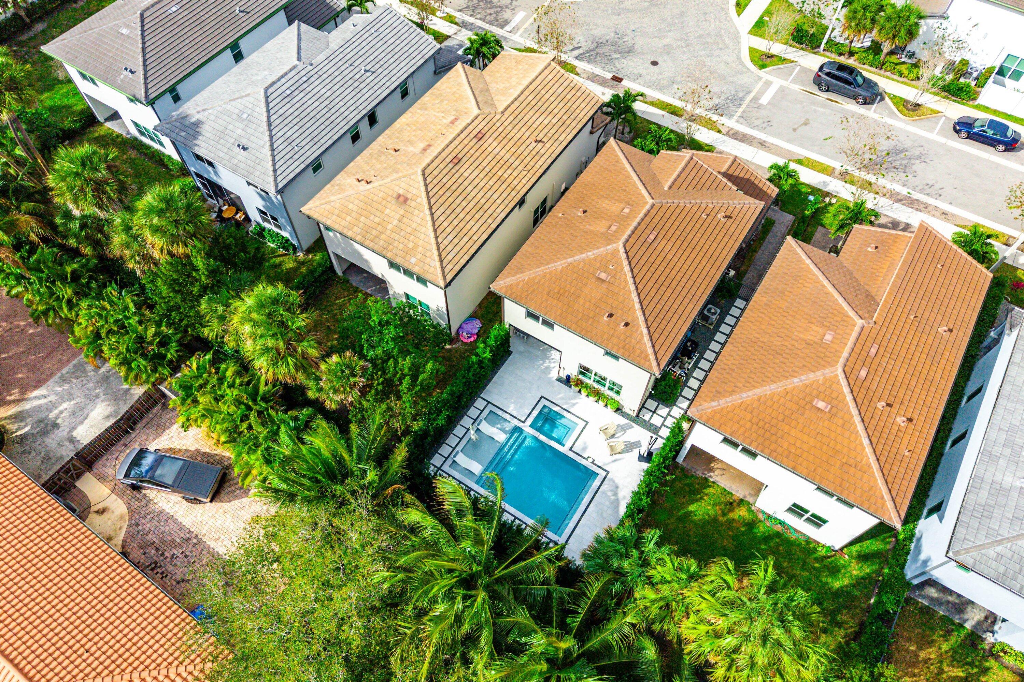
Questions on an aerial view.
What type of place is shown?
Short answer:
residential area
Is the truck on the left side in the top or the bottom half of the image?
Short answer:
bottom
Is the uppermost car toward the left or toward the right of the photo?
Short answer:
right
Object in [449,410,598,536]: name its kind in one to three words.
swimming pool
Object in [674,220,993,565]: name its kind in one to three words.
house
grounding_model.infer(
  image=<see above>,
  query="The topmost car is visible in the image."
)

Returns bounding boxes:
[814,61,883,105]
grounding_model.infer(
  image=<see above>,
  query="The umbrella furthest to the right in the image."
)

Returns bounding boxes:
[635,432,656,468]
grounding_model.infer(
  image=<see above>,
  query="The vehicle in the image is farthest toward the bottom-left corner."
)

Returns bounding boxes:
[112,446,223,505]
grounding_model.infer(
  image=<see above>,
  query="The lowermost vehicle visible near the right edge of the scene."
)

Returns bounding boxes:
[953,114,1024,151]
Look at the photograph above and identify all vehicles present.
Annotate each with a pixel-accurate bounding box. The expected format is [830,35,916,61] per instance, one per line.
[953,114,1024,151]
[112,446,223,505]
[814,61,883,105]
